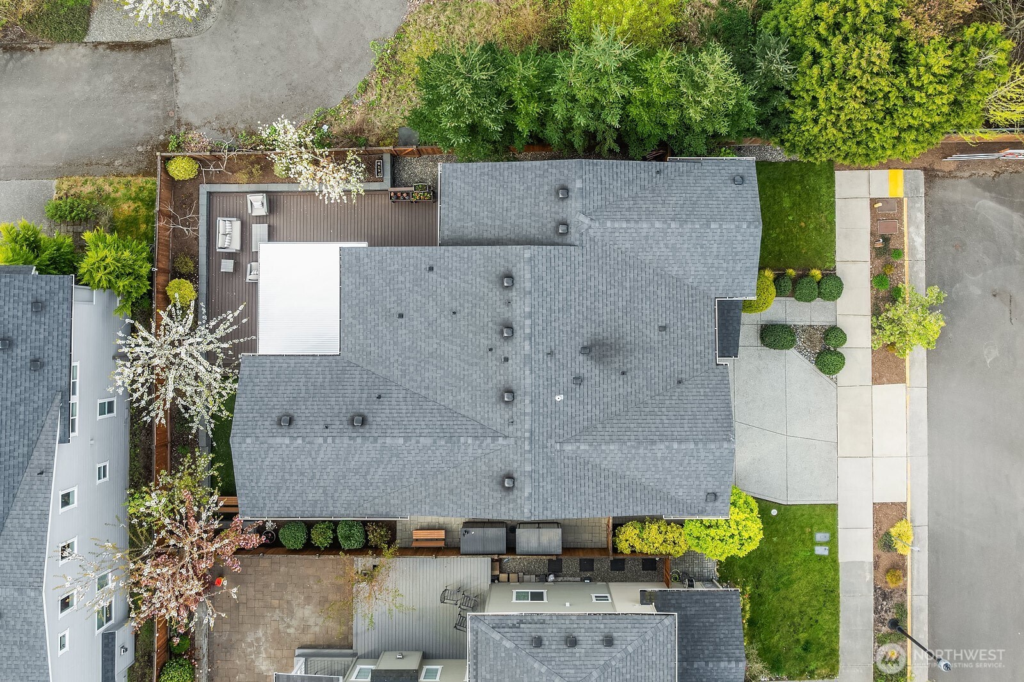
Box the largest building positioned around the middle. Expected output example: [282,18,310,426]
[230,155,763,526]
